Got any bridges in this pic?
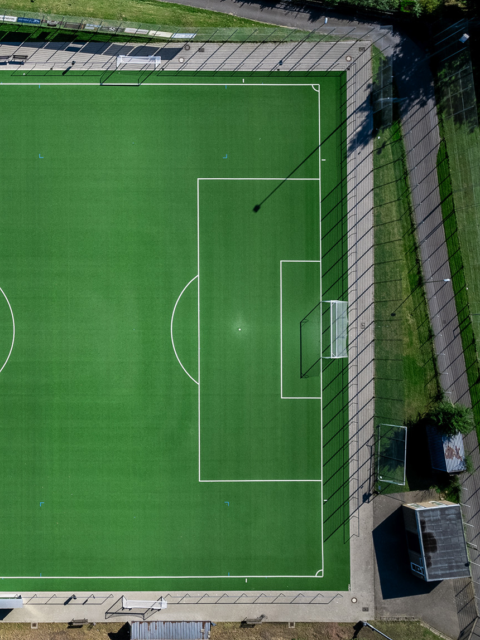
No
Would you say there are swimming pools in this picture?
No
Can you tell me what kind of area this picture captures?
sports ground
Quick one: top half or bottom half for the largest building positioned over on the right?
bottom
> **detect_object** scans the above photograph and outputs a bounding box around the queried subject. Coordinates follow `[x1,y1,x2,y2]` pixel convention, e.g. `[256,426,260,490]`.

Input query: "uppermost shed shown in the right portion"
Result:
[428,430,465,473]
